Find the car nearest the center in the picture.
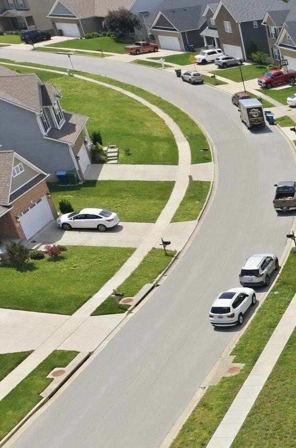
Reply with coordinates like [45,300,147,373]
[58,207,120,230]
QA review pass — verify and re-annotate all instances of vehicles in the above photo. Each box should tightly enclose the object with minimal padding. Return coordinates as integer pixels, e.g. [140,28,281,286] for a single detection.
[196,46,226,63]
[238,89,264,124]
[256,70,296,88]
[207,287,257,326]
[240,253,278,287]
[284,93,296,105]
[181,68,201,81]
[20,29,47,41]
[124,40,160,54]
[58,207,120,230]
[274,179,296,210]
[211,53,244,67]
